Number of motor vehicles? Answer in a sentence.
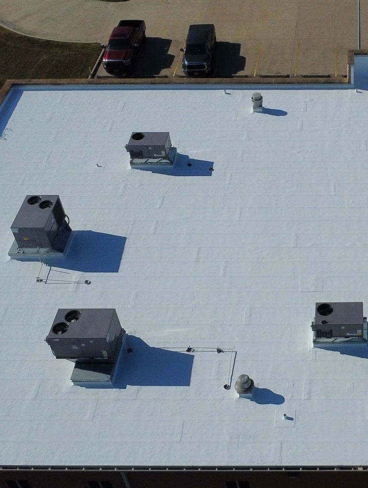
In total, 2 motor vehicles can be seen.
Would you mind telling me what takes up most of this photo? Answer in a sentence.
The largest share of the image is taken up by buildings.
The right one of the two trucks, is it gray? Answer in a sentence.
No, the color of the right one of the two trucks is black.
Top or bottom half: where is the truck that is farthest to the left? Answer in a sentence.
It is in the top half that the truck that is farthest to the left appears.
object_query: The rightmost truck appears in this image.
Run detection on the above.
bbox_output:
[177,24,219,76]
